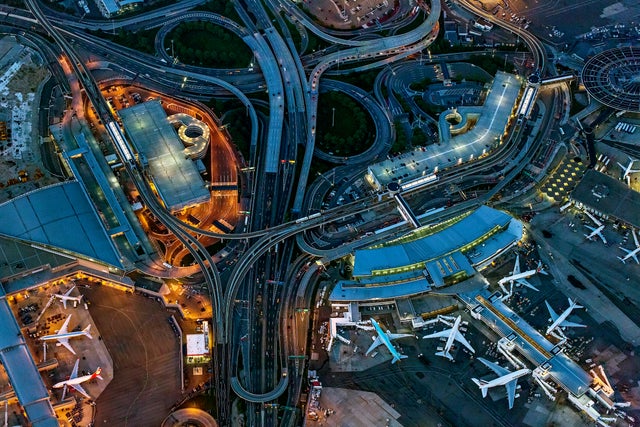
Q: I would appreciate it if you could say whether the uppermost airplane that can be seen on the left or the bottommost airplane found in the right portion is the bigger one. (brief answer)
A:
the bottommost airplane found in the right portion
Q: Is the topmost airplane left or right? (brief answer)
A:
right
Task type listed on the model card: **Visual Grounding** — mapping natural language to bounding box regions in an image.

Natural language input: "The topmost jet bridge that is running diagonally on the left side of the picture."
[34,294,56,324]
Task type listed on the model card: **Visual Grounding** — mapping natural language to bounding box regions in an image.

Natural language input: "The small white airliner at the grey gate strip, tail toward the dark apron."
[55,284,83,309]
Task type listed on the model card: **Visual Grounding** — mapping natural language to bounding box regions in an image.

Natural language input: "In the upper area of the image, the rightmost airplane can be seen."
[616,155,640,180]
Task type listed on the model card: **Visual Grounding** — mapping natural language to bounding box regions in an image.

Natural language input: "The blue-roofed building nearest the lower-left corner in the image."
[0,299,62,427]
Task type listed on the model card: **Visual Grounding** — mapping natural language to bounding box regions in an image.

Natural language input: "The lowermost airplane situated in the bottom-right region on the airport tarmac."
[471,345,531,410]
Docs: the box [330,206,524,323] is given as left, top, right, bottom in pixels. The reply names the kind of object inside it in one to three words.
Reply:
building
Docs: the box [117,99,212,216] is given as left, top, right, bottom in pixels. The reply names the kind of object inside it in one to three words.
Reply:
building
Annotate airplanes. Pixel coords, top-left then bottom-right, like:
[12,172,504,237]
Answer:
[471,345,531,410]
[544,295,588,334]
[616,242,640,268]
[55,284,83,309]
[426,316,474,359]
[369,319,410,364]
[616,155,640,180]
[40,313,92,356]
[498,250,549,293]
[582,223,604,244]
